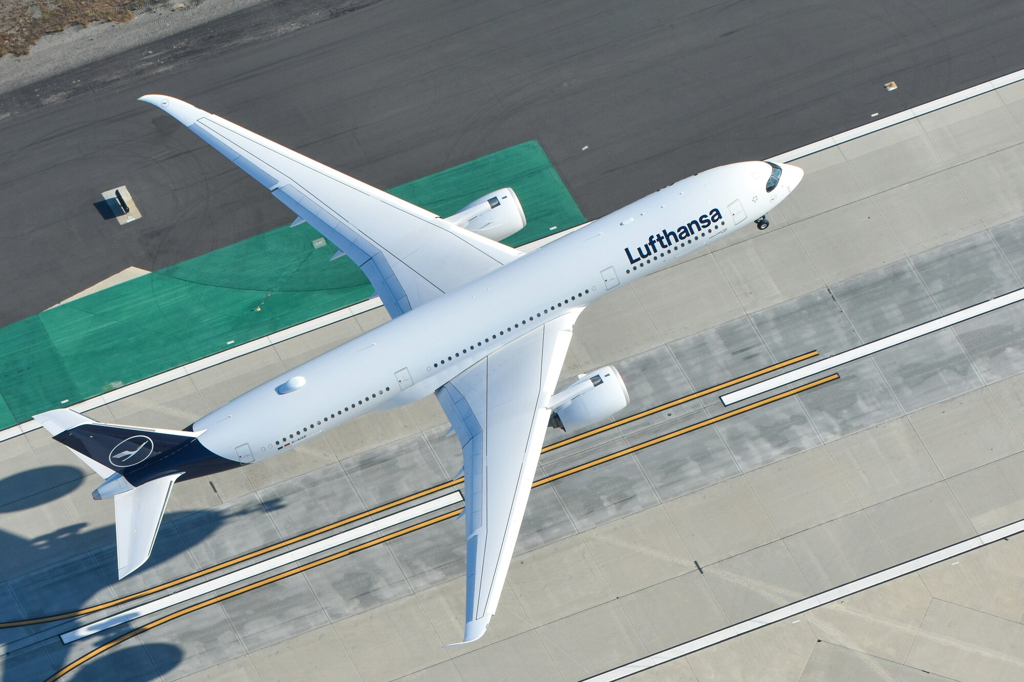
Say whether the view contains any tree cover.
No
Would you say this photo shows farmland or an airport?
airport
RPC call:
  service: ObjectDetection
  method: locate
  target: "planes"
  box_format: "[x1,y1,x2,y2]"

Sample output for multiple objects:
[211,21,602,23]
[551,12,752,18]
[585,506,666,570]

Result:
[31,93,804,650]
